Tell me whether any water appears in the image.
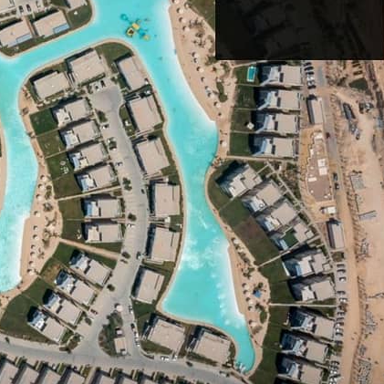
Yes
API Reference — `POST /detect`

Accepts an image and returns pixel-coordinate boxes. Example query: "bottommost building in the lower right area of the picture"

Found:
[278,359,323,384]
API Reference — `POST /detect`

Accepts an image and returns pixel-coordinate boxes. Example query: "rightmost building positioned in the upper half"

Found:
[305,99,323,125]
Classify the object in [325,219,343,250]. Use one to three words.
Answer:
building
